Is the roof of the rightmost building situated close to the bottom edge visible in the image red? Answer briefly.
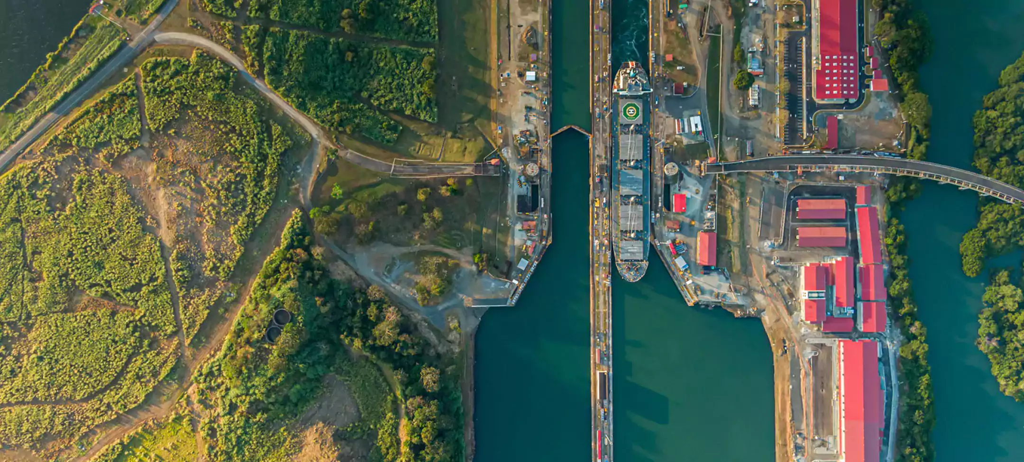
Yes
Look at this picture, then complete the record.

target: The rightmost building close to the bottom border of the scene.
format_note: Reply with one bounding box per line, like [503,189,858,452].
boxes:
[837,340,885,462]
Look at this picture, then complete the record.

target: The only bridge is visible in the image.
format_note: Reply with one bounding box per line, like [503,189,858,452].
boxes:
[700,156,1024,213]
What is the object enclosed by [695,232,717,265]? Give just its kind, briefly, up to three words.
building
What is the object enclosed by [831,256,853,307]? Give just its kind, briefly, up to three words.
building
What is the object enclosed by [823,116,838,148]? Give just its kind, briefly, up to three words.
shed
